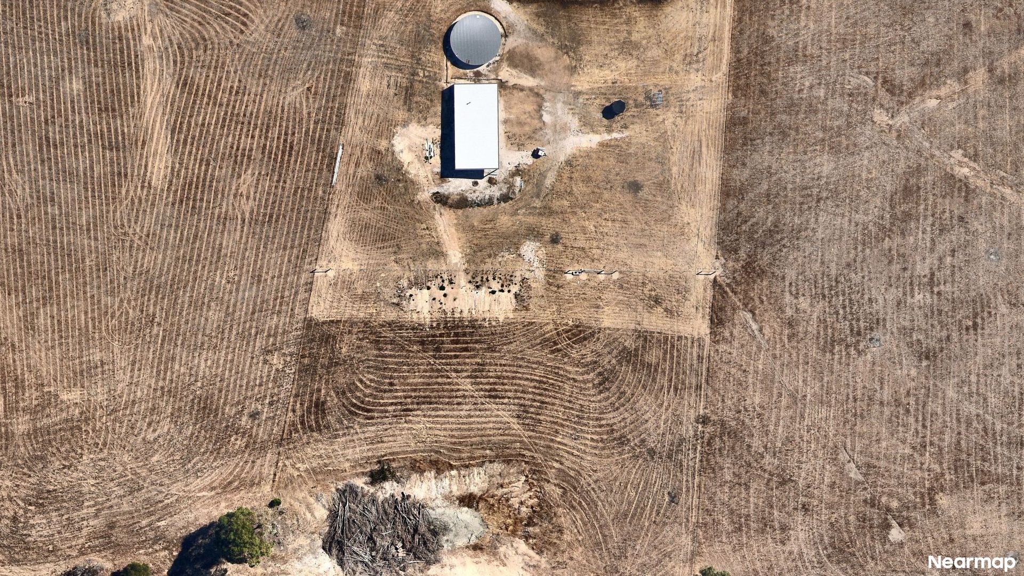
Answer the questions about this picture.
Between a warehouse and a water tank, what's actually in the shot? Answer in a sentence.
It is a water tank that can be seen here.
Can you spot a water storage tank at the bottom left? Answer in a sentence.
No, at the bottom left there is no water storage tank.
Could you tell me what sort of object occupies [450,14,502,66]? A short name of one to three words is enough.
water tank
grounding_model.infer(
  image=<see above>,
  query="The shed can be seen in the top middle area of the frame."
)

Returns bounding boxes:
[455,83,499,169]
